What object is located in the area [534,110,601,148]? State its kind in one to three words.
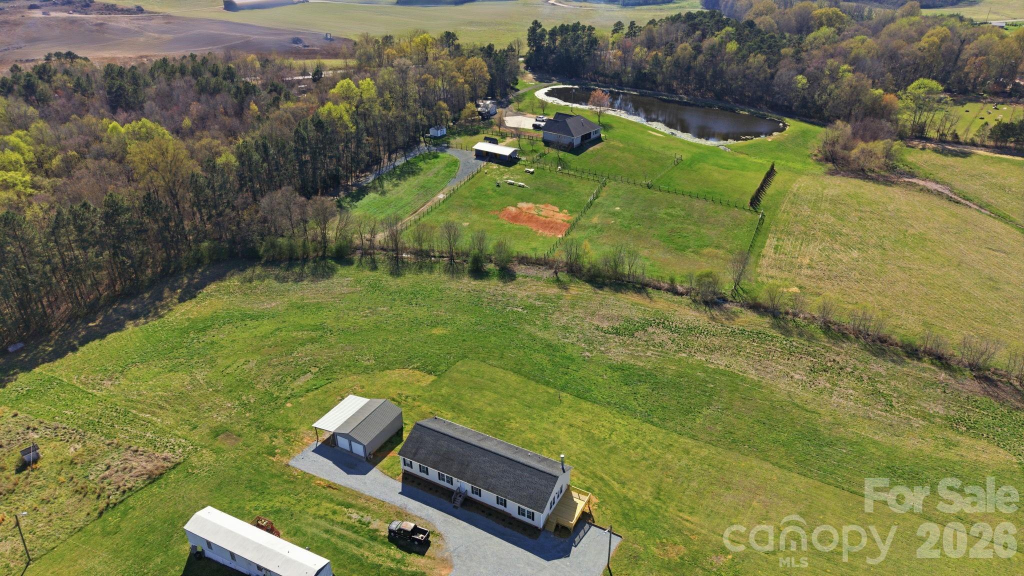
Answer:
house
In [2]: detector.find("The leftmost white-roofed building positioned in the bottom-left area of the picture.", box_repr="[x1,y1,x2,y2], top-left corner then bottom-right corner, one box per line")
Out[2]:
[184,506,330,576]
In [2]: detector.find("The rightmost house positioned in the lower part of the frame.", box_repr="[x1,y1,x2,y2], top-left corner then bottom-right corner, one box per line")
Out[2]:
[398,413,590,534]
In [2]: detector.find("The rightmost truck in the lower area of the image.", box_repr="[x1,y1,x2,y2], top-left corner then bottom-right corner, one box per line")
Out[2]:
[385,521,431,547]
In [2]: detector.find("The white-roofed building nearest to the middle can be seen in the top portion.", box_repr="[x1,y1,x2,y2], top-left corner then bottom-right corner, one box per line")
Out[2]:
[473,141,517,165]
